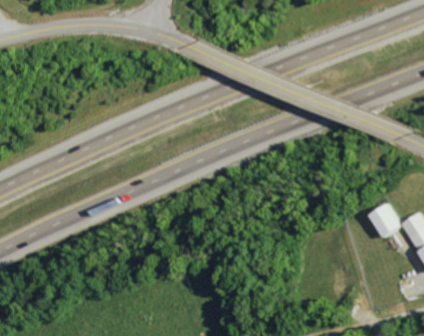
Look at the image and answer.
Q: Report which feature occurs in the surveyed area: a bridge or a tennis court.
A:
bridge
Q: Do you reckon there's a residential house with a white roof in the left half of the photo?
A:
No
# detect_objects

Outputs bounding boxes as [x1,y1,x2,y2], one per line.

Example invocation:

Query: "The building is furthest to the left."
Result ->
[368,204,402,238]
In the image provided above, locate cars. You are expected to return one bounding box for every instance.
[406,270,412,279]
[131,178,142,186]
[16,242,28,249]
[68,146,79,153]
[411,269,416,278]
